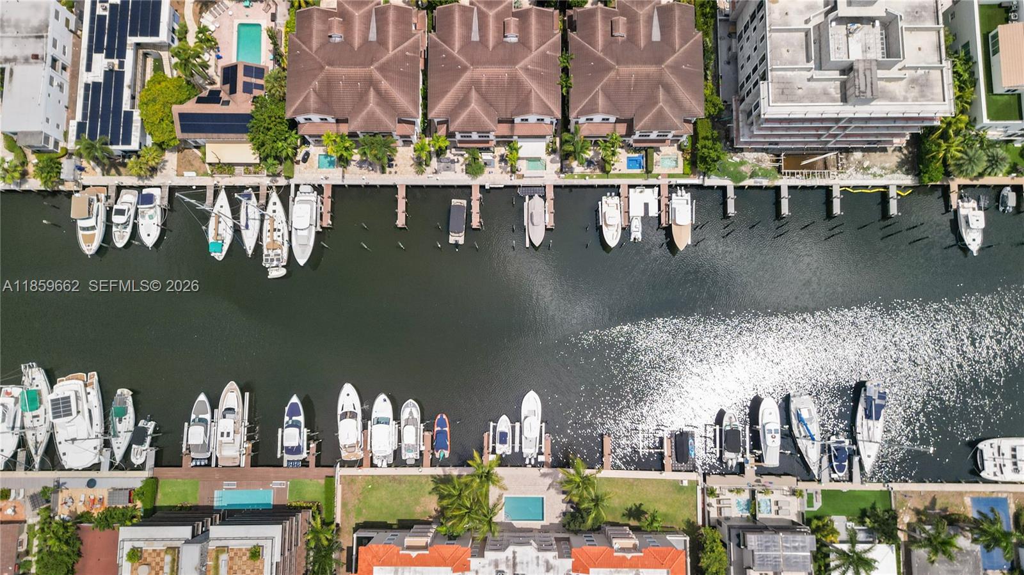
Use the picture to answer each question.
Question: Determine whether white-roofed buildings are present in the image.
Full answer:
Yes, I can see a white-roofed building in this picture.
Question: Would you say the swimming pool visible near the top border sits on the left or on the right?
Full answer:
The swimming pool visible near the top border sits on the left side.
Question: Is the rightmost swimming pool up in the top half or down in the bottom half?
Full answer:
It is in the bottom half that the rightmost swimming pool appears.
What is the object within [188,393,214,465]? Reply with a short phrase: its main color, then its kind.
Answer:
white boat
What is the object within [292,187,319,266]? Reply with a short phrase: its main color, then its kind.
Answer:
white boat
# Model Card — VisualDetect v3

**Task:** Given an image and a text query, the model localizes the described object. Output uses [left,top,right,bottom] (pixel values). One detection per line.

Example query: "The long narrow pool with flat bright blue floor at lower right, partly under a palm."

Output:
[966,492,1015,575]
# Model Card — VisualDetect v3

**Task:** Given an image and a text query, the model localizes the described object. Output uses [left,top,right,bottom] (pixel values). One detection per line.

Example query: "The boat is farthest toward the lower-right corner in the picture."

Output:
[968,437,1024,482]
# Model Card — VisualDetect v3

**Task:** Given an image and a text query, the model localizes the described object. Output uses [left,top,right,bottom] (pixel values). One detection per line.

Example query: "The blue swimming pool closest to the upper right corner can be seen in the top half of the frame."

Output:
[625,153,645,170]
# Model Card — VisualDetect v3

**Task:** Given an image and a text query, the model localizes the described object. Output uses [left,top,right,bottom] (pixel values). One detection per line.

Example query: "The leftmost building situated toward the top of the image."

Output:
[0,0,79,157]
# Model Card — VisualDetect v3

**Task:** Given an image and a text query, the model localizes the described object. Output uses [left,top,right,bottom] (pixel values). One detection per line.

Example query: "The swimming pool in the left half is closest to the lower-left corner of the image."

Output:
[213,489,274,510]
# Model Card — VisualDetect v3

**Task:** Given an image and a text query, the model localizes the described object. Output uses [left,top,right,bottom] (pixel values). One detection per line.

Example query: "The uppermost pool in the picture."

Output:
[233,19,265,65]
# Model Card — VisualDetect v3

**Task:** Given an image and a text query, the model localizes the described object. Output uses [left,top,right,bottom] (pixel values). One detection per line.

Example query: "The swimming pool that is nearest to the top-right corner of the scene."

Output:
[659,153,679,169]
